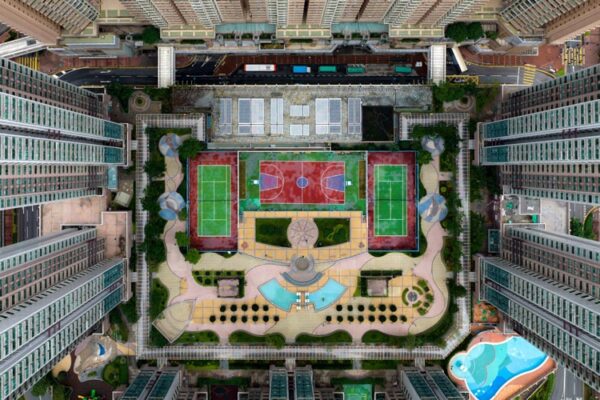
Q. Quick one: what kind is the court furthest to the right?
tennis court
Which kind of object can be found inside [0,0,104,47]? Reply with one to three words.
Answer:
building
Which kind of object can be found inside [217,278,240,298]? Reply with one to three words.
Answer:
building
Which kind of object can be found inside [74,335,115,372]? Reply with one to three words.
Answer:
playground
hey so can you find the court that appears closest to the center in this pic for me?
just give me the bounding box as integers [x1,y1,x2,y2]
[238,150,368,212]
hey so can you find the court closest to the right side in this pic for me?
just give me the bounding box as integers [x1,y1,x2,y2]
[367,152,421,253]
